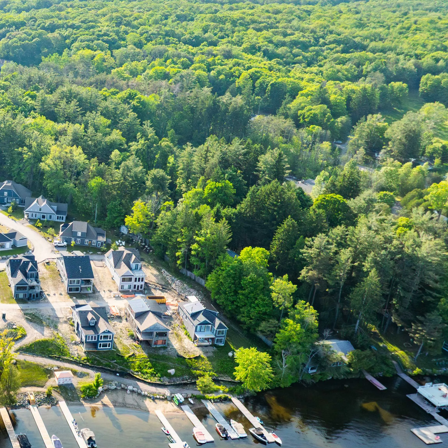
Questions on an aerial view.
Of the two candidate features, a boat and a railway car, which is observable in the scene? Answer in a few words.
boat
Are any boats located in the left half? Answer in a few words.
Yes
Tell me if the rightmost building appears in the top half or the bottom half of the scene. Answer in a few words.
bottom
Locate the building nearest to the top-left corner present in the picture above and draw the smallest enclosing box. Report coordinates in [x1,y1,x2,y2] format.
[0,183,31,206]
